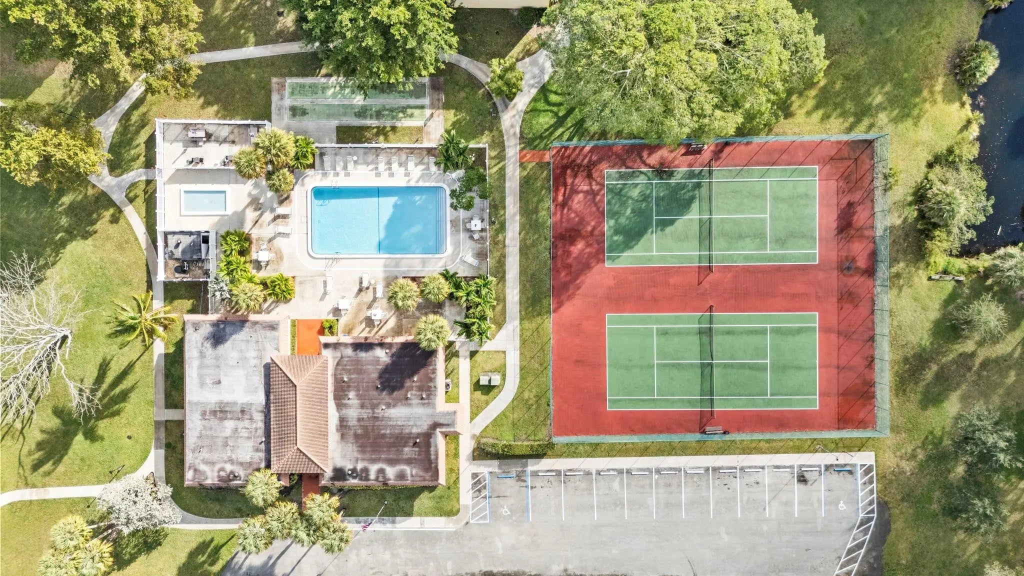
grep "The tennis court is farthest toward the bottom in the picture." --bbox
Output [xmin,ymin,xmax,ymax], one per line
[606,313,819,411]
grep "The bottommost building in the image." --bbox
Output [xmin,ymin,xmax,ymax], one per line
[183,314,464,487]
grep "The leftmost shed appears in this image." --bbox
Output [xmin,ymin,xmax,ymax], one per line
[168,233,201,258]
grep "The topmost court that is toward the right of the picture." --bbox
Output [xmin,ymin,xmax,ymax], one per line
[605,166,819,266]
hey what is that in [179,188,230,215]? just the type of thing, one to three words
swimming pool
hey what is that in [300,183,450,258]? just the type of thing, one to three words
swimming pool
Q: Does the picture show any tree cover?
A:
Yes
